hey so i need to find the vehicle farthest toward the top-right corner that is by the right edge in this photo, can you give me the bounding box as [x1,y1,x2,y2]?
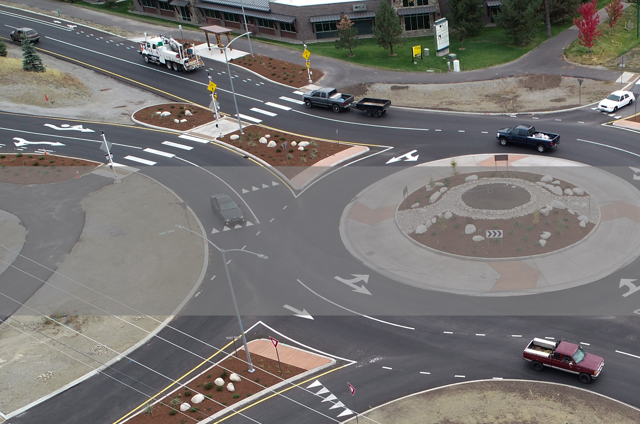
[596,89,638,112]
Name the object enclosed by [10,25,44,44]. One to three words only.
car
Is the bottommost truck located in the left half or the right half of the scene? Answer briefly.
right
